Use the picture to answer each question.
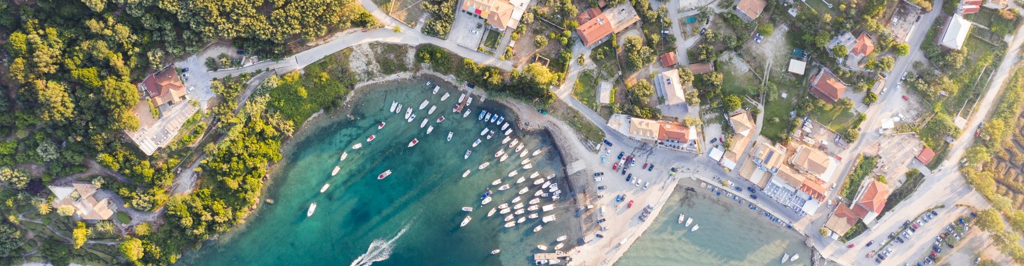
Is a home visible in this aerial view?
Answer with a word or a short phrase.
Yes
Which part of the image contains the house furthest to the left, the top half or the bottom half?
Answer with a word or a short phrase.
bottom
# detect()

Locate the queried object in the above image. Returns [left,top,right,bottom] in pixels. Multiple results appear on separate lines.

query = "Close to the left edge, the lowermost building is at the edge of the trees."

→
[48,184,121,220]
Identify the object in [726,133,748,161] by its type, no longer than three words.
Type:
house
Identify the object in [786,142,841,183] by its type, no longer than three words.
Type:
house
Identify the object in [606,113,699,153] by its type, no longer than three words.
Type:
building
